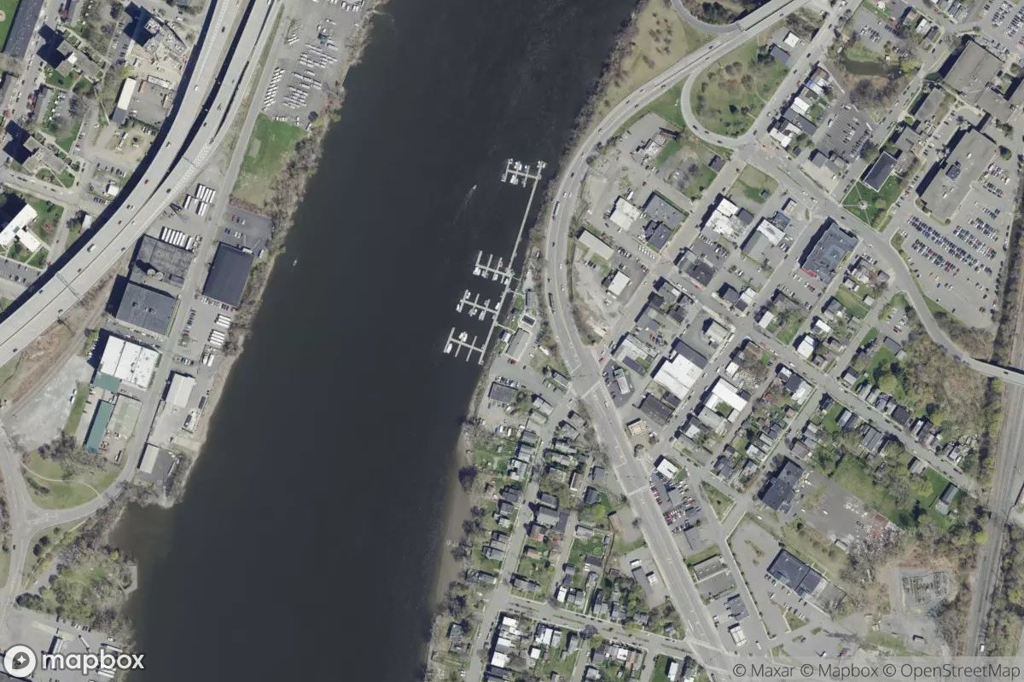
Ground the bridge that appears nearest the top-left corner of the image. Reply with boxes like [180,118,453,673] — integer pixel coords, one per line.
[0,0,246,350]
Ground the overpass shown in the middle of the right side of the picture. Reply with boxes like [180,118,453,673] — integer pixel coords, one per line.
[938,334,1024,382]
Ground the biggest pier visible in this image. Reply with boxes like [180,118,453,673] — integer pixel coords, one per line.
[480,168,541,359]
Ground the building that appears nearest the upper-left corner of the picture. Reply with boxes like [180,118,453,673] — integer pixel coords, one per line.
[4,0,43,55]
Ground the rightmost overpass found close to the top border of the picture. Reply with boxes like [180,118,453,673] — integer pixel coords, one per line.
[664,0,821,81]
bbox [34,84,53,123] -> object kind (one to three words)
house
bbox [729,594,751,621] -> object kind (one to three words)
building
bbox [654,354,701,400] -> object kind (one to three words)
building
